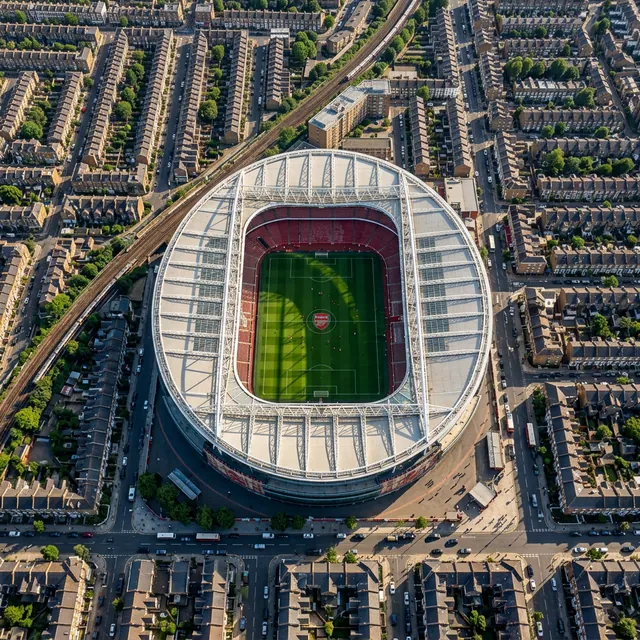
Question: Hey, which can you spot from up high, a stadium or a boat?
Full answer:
The image shows a stadium.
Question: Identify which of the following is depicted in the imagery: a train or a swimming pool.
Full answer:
The one in the frame is a train.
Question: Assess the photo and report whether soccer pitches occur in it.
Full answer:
Yes, there's a soccer pitch down there.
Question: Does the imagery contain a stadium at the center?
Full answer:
Yes, looking at the center, one can make out a stadium.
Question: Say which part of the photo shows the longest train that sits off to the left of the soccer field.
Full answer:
The longest train that sits off to the left of the soccer field is located in the left region of the scene.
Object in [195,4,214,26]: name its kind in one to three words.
building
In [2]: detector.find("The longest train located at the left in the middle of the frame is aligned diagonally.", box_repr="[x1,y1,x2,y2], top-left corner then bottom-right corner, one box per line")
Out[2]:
[48,262,128,358]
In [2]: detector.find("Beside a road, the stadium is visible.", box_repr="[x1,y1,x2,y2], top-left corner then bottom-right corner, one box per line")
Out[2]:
[149,149,492,508]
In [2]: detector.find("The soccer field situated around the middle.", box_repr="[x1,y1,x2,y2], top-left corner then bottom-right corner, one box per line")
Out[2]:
[249,247,392,402]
